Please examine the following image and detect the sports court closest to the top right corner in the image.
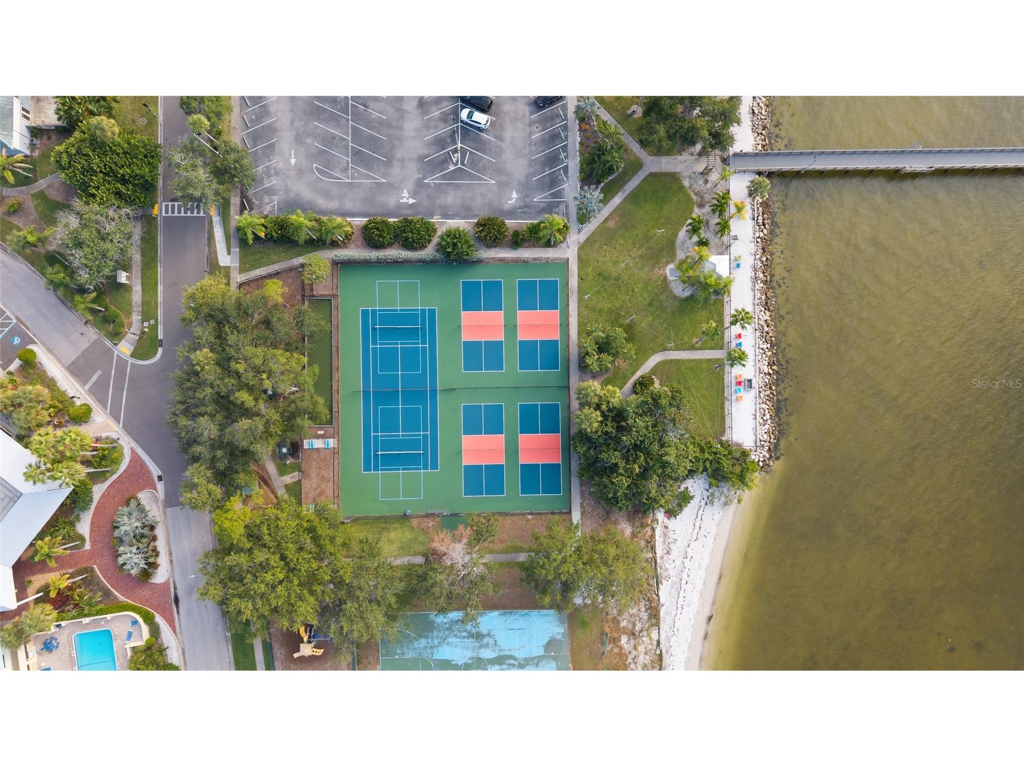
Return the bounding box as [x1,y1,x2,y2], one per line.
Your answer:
[516,278,563,371]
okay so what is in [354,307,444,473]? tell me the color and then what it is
blue tennis court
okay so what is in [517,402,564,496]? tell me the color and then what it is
blue sports court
